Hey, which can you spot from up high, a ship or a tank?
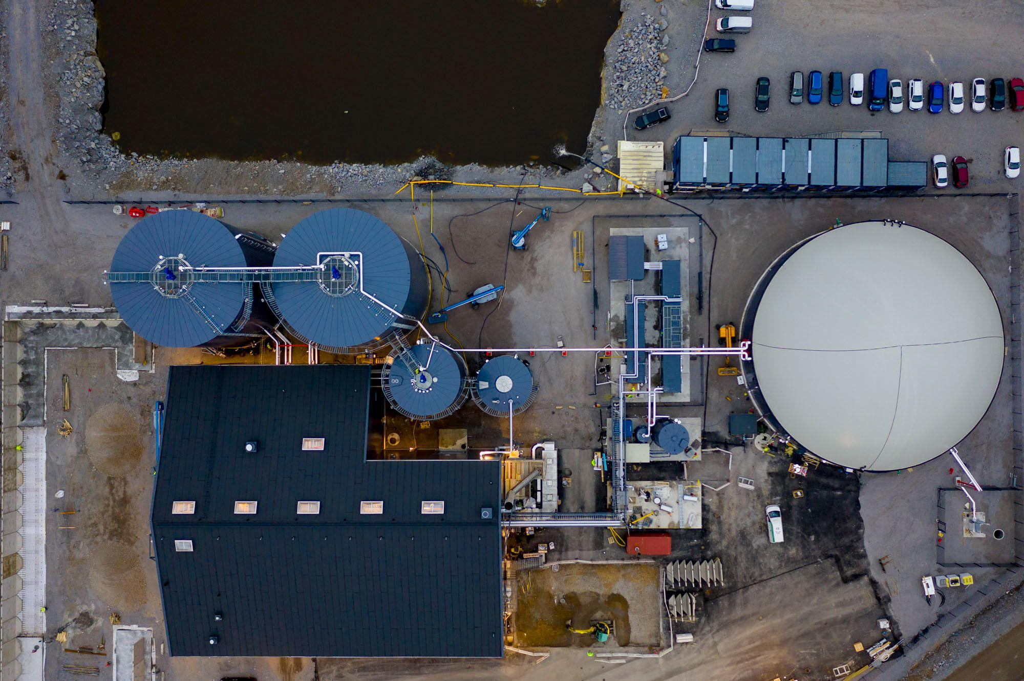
tank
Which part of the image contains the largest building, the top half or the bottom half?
bottom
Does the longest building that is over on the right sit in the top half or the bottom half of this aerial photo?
top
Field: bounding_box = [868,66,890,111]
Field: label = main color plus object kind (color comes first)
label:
blue vehicle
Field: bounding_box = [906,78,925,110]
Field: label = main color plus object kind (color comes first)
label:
white car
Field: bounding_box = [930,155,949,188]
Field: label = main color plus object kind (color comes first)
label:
white car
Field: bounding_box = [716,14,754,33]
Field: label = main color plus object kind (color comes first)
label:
white vehicle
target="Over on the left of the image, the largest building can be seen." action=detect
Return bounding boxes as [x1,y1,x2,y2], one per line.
[149,364,503,659]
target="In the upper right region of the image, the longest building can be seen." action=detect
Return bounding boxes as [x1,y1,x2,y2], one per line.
[671,136,887,194]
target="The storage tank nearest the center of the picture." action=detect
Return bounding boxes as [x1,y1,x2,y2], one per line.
[469,352,540,420]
